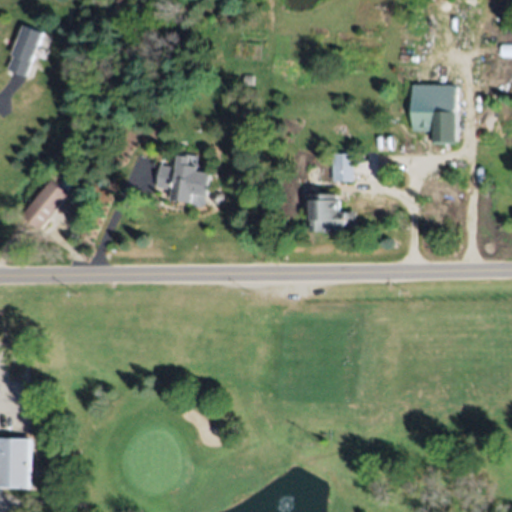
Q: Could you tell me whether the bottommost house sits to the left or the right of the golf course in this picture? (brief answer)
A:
to the left of it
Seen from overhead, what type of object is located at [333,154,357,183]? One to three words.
shed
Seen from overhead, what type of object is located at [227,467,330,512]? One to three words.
pond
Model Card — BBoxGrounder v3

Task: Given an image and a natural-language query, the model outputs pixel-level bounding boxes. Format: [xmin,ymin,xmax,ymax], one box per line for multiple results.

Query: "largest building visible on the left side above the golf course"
[157,154,210,207]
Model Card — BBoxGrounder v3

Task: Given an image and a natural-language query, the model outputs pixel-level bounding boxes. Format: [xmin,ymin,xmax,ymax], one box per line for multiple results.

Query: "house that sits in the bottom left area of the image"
[0,438,32,490]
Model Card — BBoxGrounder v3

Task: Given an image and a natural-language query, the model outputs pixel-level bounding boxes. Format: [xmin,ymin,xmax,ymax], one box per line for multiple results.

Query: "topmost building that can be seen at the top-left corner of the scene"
[8,25,51,78]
